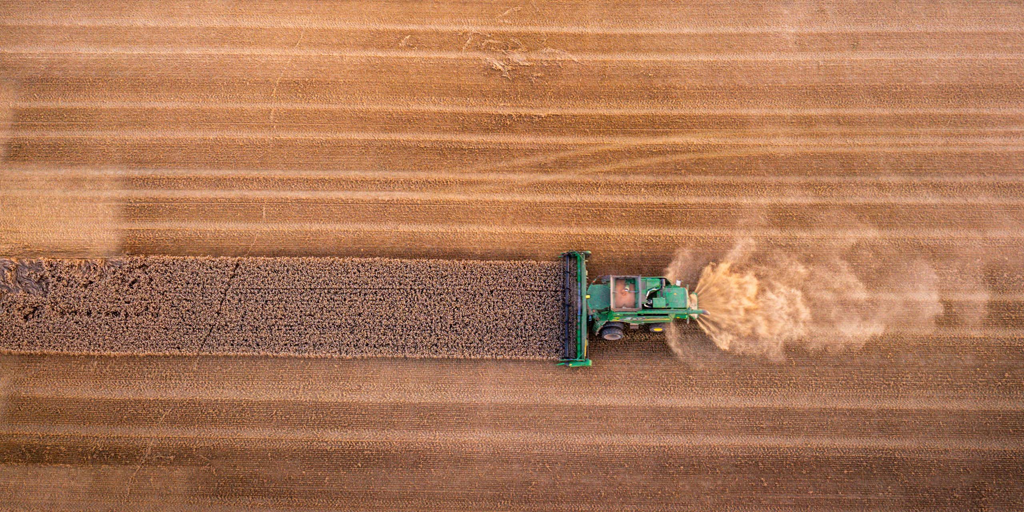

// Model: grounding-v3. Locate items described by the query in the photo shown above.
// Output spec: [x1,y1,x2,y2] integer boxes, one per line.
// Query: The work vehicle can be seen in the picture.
[557,250,712,366]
